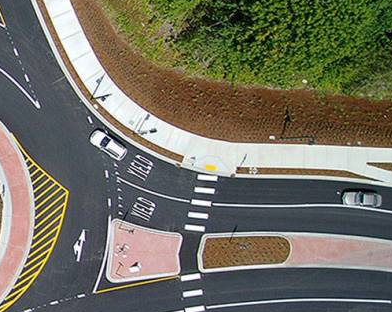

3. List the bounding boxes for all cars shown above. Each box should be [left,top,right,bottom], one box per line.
[341,191,384,208]
[90,131,128,160]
